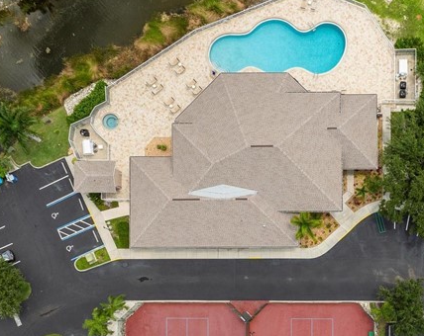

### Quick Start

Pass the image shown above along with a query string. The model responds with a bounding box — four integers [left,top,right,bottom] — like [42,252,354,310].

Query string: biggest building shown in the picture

[130,72,377,248]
